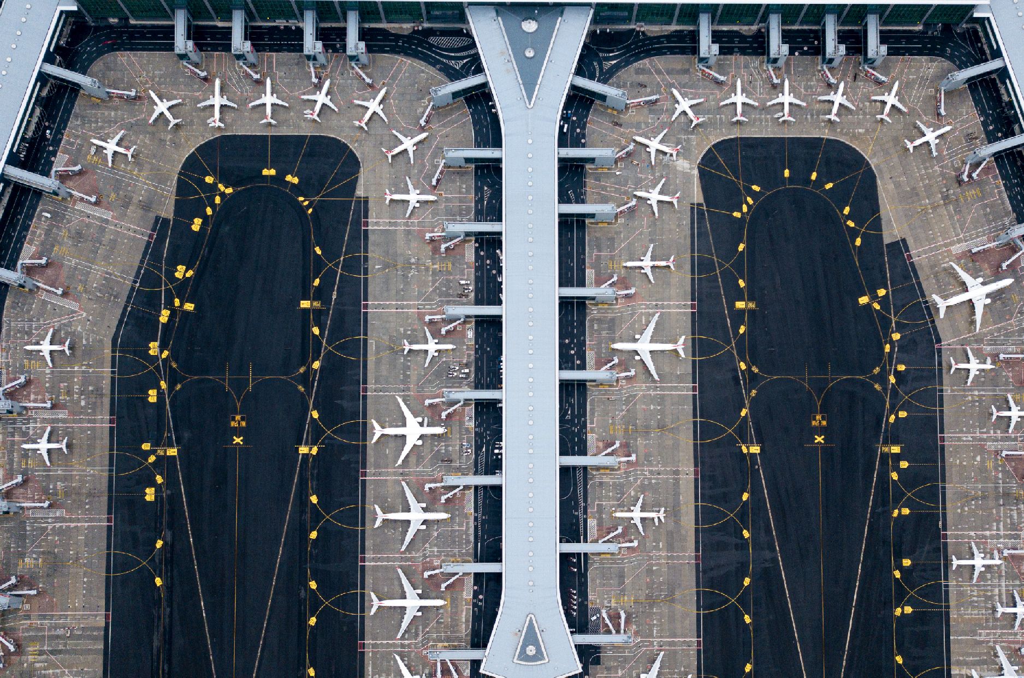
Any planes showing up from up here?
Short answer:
Yes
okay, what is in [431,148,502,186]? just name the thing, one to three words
jet bridge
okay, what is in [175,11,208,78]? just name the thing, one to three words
jet bridge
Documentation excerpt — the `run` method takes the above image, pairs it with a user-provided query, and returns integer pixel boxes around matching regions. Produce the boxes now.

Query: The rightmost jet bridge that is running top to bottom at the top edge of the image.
[862,15,888,84]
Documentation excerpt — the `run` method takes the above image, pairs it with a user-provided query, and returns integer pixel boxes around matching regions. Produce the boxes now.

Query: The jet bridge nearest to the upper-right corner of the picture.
[936,57,1005,117]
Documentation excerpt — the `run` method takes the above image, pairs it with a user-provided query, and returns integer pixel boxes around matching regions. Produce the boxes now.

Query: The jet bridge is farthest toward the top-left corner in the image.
[41,62,138,100]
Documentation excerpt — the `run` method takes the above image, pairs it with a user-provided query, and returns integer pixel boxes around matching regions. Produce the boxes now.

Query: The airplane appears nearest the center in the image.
[403,325,456,367]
